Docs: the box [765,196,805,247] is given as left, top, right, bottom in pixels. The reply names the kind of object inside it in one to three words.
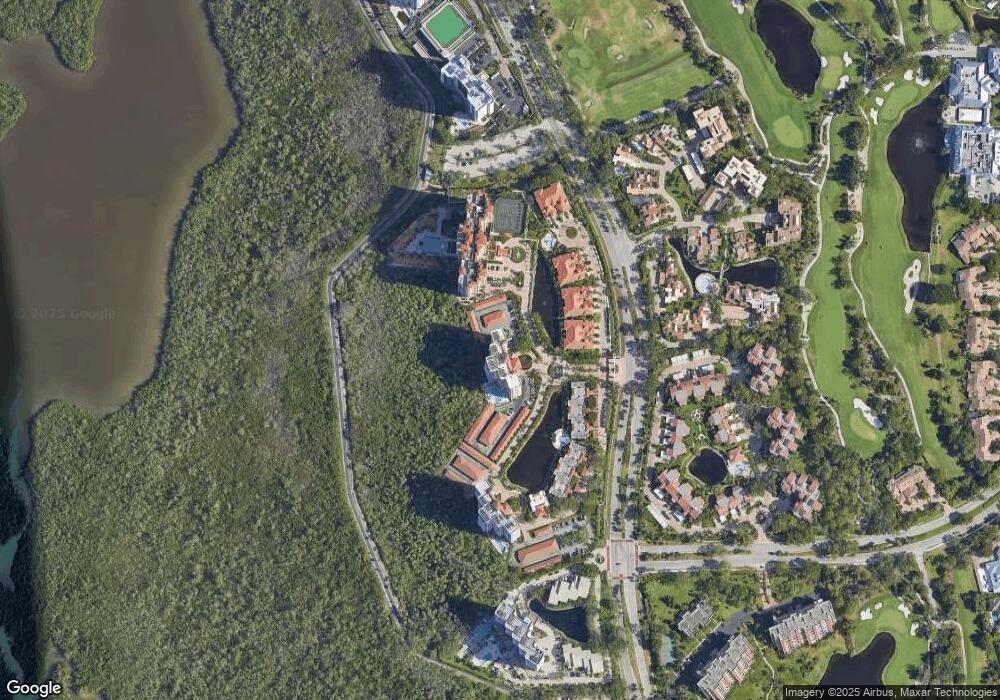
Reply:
house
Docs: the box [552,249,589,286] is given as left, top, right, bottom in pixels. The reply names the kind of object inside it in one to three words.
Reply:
building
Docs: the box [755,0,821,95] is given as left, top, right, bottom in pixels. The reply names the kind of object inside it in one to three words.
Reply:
pond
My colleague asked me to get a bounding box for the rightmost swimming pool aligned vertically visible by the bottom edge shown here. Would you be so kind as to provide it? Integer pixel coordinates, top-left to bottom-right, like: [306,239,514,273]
[658,632,675,667]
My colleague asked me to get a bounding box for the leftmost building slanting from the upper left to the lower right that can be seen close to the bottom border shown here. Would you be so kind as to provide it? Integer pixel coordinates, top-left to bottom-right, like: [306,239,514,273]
[495,600,544,673]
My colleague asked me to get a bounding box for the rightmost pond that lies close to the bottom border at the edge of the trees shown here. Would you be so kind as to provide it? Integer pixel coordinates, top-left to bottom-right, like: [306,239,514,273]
[810,632,896,700]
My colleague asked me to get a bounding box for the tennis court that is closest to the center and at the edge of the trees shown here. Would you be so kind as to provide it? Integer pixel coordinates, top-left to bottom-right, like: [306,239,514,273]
[494,196,525,232]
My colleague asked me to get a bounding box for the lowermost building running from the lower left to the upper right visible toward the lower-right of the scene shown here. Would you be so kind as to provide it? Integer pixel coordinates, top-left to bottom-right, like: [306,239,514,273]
[696,635,758,700]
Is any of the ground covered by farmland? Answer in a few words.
No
